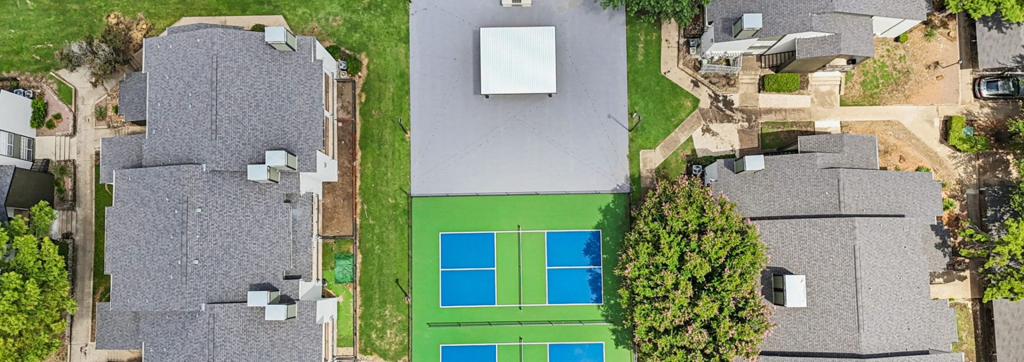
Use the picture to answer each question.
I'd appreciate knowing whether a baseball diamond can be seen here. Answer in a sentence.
No, the scene contains no baseball diamond.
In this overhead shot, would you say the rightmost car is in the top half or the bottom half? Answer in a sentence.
It is in the top half that the rightmost car appears.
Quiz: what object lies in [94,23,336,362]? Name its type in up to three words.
building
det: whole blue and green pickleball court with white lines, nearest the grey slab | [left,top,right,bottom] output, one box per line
[439,229,604,308]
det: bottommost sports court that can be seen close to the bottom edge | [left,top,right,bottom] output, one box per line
[440,342,606,362]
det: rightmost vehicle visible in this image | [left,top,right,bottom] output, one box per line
[973,74,1024,101]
